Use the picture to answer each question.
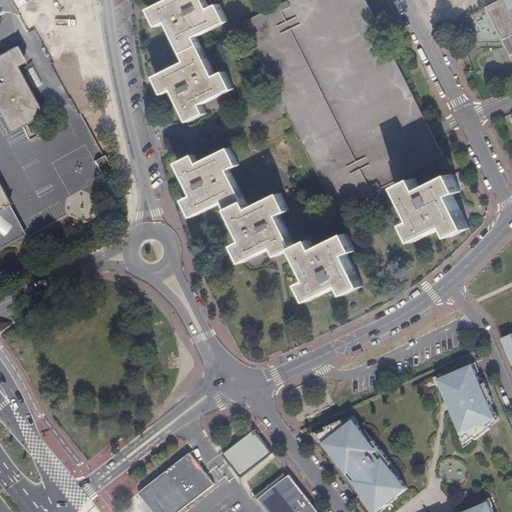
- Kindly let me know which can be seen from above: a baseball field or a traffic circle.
traffic circle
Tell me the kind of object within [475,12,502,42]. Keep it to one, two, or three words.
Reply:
playground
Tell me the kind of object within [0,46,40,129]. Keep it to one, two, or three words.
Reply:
building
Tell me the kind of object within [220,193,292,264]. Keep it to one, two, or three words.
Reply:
building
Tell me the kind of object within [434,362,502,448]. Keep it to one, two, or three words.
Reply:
house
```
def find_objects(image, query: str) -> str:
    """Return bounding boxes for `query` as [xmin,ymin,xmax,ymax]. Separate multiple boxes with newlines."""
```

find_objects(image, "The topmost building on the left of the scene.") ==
[142,0,228,52]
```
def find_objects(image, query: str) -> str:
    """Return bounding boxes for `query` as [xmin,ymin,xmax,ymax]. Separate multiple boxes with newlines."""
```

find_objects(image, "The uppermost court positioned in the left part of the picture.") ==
[52,146,97,194]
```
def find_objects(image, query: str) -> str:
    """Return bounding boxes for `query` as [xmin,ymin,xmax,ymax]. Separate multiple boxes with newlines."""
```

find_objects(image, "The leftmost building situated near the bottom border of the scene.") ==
[138,452,215,512]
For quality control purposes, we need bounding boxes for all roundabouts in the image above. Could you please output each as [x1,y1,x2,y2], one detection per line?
[122,222,180,280]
